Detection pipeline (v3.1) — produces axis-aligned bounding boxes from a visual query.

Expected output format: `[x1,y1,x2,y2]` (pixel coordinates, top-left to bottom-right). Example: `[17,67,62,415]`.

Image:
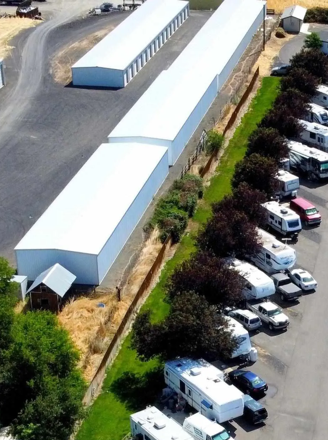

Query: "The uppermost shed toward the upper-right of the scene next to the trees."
[280,9,310,32]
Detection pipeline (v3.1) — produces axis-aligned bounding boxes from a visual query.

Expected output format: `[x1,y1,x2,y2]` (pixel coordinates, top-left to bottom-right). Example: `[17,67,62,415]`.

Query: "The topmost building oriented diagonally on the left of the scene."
[71,0,190,87]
